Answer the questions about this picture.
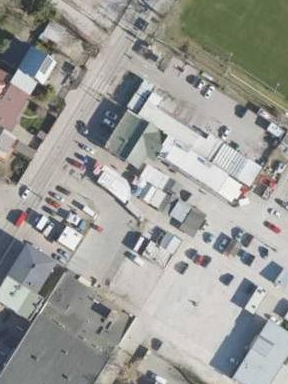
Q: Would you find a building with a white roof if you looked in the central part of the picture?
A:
Yes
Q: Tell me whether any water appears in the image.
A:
No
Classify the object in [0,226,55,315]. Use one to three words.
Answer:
house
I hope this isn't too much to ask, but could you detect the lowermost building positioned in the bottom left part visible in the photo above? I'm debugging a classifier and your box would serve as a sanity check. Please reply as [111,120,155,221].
[0,272,136,384]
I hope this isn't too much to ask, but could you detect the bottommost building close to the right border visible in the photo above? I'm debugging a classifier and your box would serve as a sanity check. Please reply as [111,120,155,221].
[232,319,288,384]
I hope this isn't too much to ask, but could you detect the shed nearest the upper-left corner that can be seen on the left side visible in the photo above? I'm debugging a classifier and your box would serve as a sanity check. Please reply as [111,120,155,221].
[40,19,67,44]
